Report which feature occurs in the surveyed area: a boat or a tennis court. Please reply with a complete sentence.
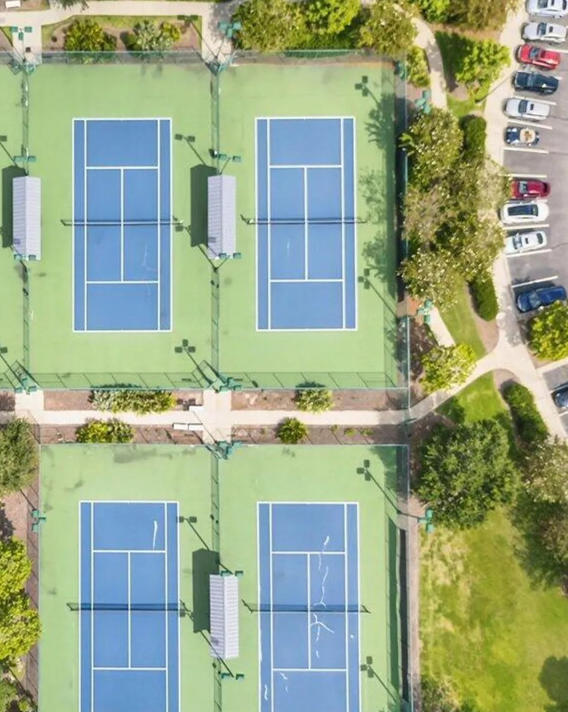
This aerial view contains a tennis court.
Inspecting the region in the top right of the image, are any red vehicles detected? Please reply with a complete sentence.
Yes, you'll find a red vehicle in the top right of the image.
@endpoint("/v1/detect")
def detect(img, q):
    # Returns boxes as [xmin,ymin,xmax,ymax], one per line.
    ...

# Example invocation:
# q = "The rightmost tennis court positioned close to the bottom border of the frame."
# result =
[216,447,400,712]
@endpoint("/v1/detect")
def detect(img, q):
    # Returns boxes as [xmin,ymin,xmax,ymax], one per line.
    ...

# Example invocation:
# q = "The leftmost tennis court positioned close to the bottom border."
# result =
[39,447,217,712]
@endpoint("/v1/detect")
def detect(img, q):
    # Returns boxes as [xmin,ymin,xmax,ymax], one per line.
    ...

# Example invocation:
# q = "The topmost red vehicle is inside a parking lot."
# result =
[515,45,562,70]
